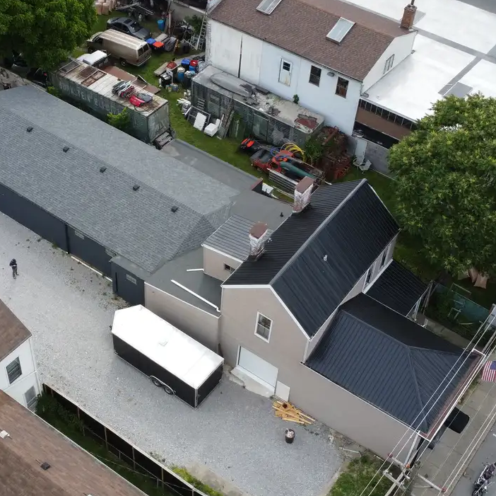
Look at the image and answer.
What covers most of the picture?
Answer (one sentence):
The largest share of the image is taken up by buildings.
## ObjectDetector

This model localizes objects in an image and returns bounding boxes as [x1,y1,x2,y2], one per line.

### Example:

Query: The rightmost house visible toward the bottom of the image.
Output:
[148,173,492,472]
